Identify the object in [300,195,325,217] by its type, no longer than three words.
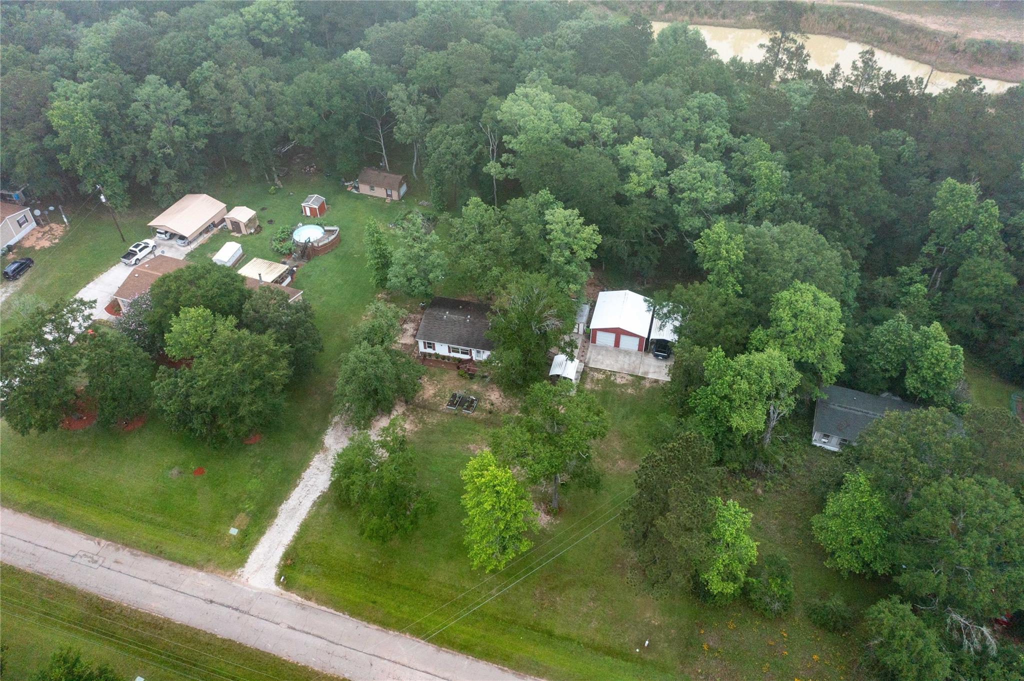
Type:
shed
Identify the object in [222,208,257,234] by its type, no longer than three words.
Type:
shed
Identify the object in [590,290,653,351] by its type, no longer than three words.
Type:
building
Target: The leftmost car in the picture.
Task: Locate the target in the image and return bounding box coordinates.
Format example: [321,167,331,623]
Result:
[0,258,32,279]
